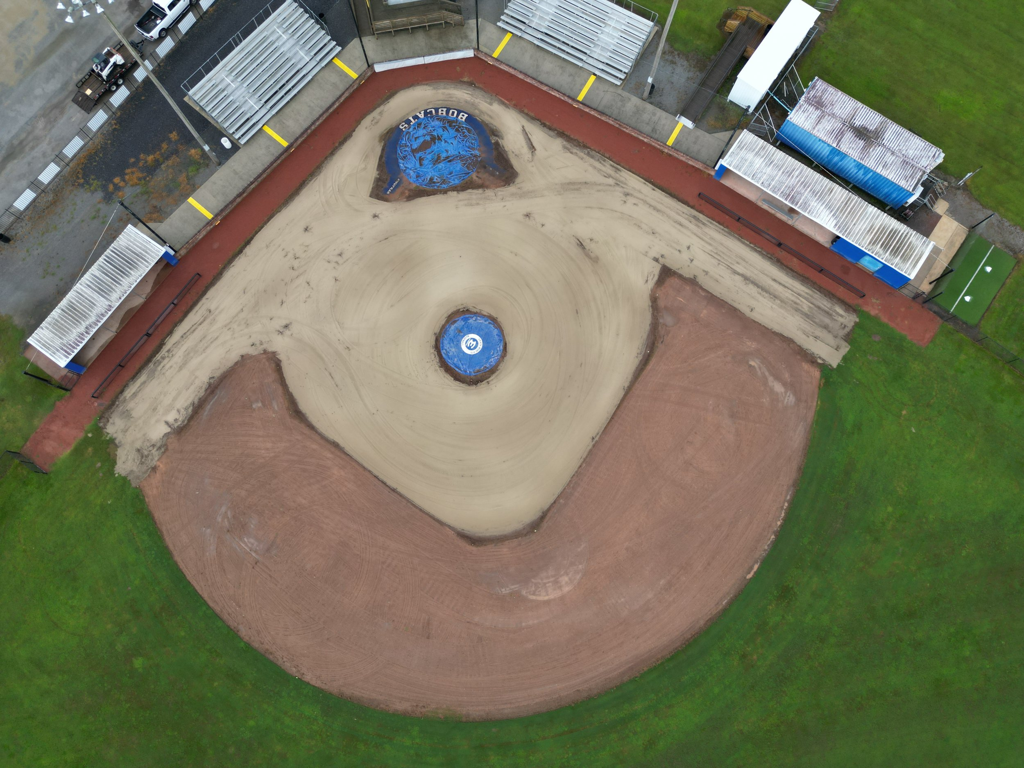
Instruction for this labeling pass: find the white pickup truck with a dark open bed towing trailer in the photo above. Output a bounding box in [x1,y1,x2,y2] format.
[133,0,198,43]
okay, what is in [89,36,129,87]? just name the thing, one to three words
work vehicle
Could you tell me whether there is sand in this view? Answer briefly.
Yes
